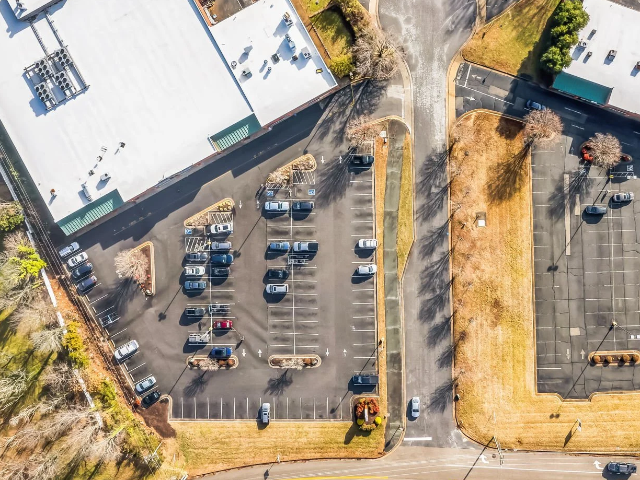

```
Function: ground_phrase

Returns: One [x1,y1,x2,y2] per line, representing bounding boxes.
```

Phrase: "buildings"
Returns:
[549,0,640,122]
[0,0,339,236]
